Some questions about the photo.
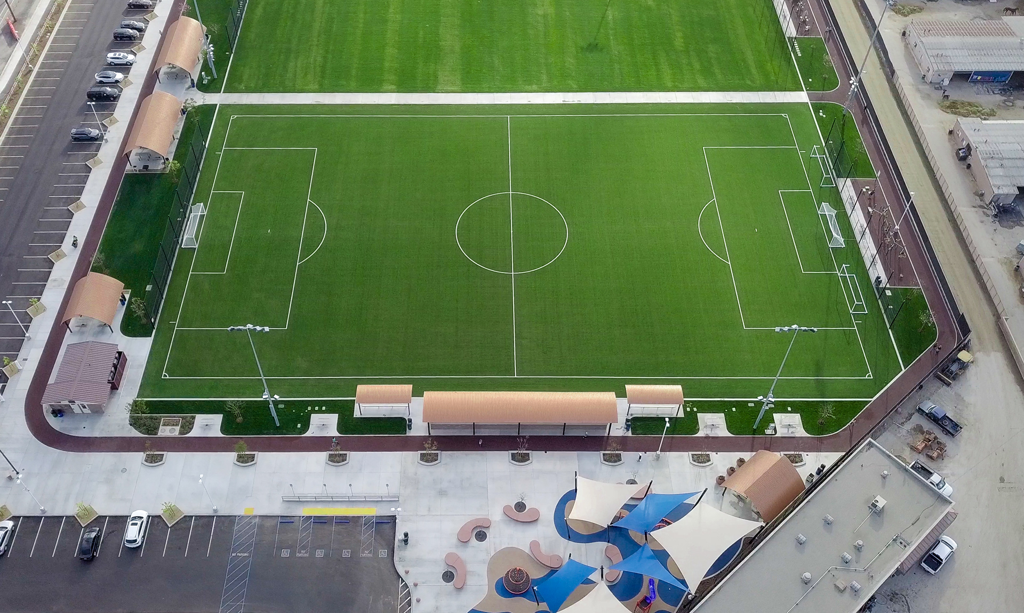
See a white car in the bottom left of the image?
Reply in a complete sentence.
Yes, I can see a white car in the bottom left of the image.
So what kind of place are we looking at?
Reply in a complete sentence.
The picture captures a sports ground.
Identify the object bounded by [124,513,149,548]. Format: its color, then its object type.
white car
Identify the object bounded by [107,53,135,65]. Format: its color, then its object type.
white vehicle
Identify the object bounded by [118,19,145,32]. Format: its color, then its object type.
gray vehicle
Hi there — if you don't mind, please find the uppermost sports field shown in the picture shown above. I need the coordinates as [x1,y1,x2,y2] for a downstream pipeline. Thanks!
[220,0,807,93]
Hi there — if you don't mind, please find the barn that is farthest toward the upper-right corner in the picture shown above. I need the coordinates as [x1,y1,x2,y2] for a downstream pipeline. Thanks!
[903,26,1024,84]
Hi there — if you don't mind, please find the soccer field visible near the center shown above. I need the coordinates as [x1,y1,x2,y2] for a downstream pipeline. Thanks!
[136,91,906,401]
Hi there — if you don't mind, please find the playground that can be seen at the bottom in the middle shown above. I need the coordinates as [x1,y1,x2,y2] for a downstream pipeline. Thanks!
[468,489,743,613]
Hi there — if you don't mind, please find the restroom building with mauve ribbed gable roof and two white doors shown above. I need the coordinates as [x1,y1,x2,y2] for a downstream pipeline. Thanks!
[40,339,120,413]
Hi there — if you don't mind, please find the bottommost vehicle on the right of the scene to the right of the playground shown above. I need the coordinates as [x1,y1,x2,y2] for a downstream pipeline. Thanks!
[918,537,957,577]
